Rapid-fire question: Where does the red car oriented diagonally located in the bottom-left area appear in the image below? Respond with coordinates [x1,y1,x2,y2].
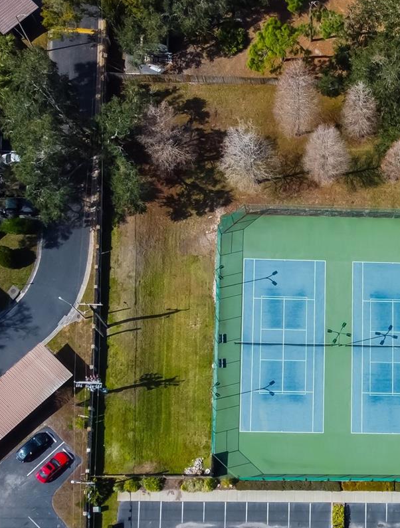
[37,451,73,481]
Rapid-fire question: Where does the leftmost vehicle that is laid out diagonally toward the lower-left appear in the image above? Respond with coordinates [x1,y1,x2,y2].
[16,429,53,461]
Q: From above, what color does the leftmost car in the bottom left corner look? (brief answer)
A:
black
